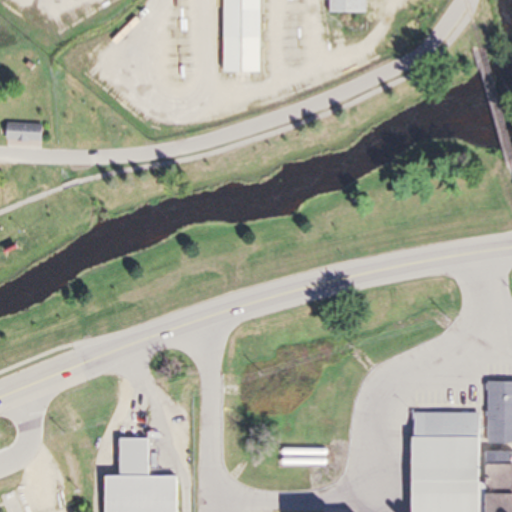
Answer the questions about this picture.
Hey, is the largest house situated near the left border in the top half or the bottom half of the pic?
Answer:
top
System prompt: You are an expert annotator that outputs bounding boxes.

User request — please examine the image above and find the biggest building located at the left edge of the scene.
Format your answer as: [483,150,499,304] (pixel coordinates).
[6,122,41,141]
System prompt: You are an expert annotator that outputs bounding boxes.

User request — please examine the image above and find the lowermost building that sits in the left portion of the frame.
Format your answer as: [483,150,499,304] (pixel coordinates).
[103,474,178,512]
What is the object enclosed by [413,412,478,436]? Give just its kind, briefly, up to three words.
building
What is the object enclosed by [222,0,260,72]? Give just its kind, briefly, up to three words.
building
